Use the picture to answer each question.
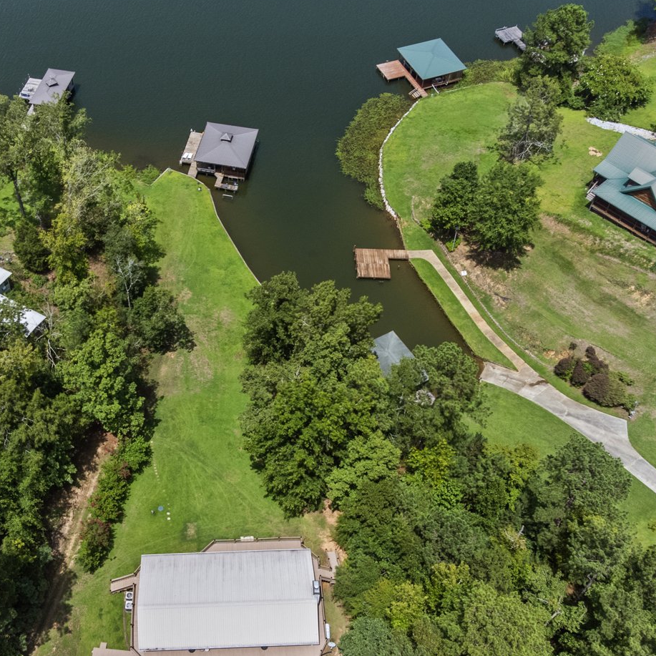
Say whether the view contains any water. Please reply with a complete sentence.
Yes, water can be seen from above here.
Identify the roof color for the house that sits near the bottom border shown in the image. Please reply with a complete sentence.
From above, the roof of the house that sits near the bottom border looks white.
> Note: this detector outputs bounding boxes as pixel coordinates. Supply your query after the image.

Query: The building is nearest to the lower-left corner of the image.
[91,532,340,656]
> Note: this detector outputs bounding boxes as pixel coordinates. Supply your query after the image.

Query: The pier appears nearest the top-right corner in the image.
[494,20,523,58]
